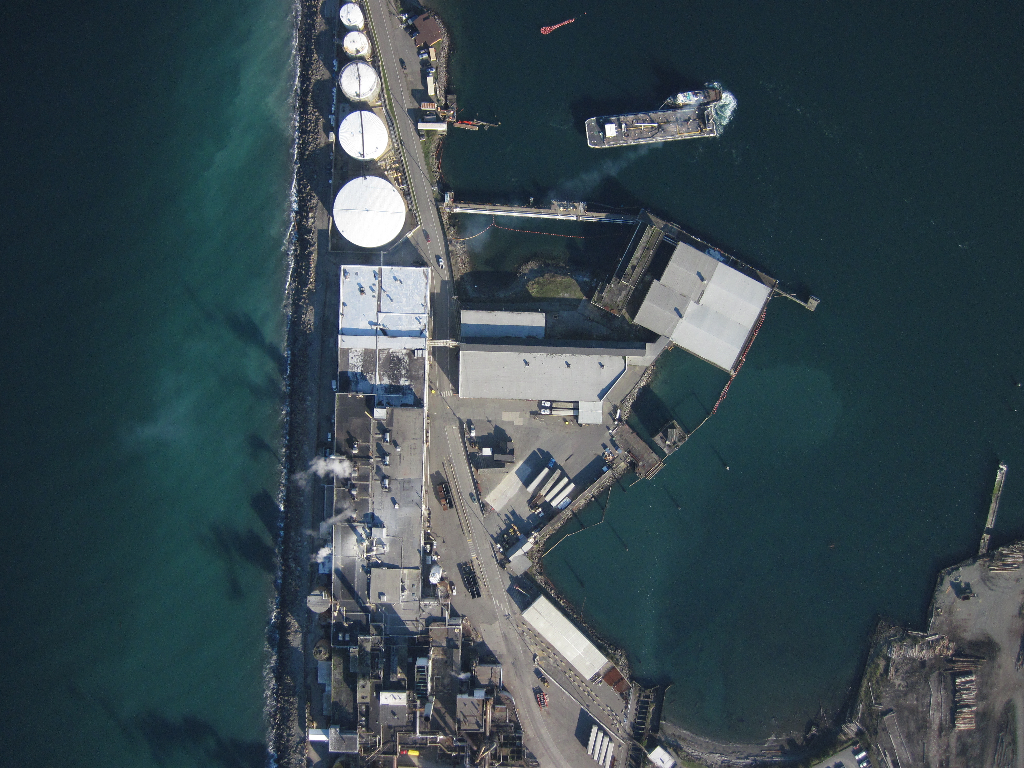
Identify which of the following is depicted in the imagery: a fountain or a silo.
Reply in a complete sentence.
This aerial view contains a silo.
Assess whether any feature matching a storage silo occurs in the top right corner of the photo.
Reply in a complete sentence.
No, no storage silo appears in the top right corner of the photo.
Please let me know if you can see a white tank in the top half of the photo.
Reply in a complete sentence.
Yes, looking in the top half of the photo, one can make out a white tank.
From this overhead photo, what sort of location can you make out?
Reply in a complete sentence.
What you see here is a port.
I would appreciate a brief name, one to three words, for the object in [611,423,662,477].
pier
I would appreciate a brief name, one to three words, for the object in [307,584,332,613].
silo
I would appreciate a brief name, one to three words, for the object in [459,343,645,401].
building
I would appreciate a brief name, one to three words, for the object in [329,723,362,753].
building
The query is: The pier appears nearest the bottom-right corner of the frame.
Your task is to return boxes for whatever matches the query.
[979,465,1006,554]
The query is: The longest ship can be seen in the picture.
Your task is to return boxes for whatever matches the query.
[585,105,716,149]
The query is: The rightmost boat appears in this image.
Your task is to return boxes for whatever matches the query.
[663,89,722,108]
